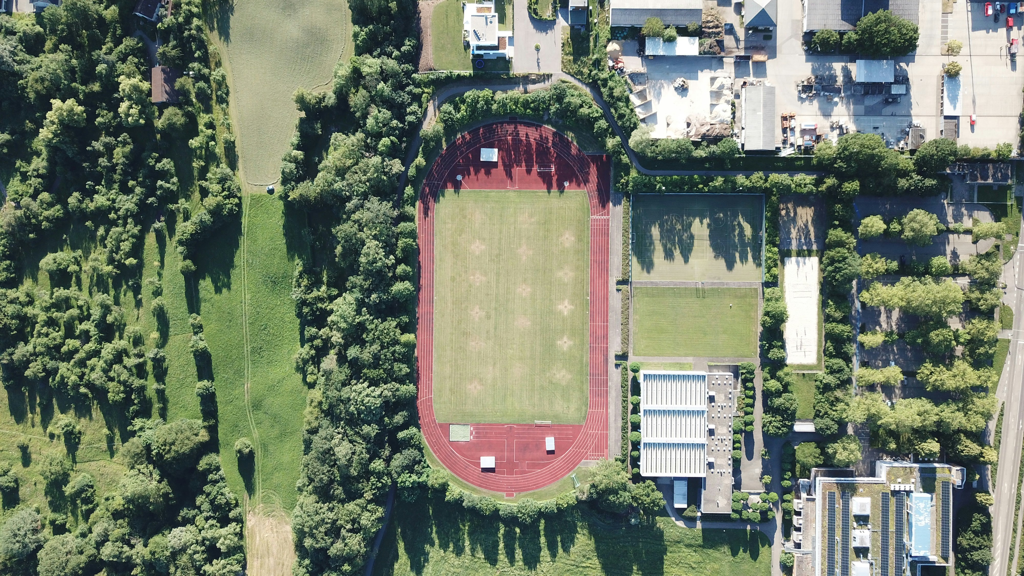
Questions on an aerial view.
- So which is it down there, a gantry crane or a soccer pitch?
soccer pitch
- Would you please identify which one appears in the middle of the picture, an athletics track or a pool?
athletics track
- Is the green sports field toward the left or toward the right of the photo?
right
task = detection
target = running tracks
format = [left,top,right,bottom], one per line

[416,119,611,498]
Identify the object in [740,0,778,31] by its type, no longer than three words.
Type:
building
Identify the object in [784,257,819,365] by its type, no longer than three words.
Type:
sports court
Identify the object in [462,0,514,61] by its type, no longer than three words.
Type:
house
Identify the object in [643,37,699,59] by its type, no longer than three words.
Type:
shed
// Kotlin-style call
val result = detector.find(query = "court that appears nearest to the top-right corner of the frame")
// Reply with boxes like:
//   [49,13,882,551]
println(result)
[779,197,824,249]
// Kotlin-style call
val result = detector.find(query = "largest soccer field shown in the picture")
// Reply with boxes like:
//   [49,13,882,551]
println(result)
[433,189,591,424]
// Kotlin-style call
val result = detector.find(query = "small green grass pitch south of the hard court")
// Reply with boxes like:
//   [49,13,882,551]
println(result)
[633,287,758,357]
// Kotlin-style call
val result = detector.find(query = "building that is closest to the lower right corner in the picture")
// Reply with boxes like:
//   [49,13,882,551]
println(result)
[785,452,966,576]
